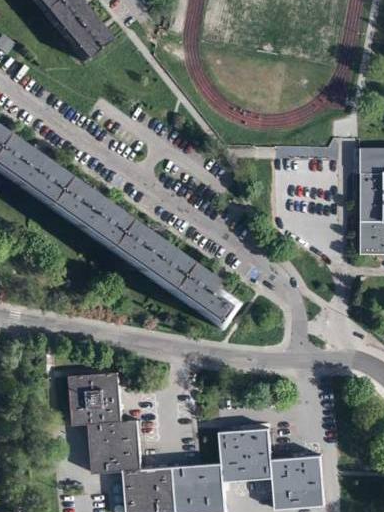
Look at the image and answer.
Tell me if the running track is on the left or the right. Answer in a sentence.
It is on the right.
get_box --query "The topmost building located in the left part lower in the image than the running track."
[0,126,238,323]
